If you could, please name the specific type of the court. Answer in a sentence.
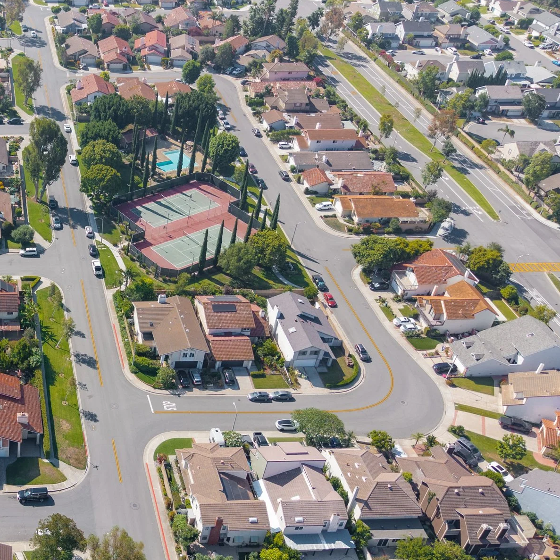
It turns out the court is a tennis court.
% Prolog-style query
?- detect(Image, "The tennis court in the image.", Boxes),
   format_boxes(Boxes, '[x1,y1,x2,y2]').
[124,180,257,266]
